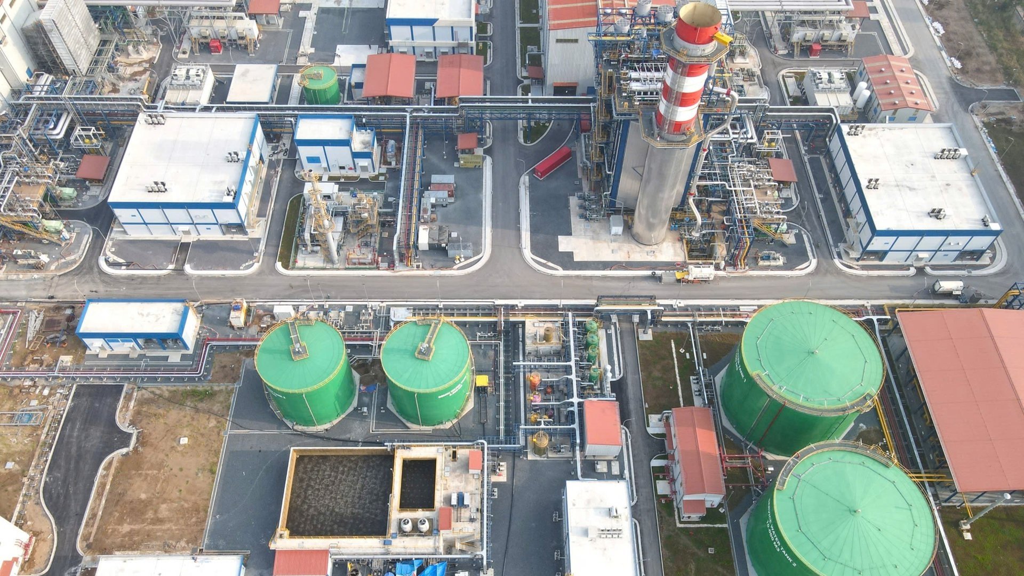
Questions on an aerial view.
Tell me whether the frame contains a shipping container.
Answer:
Yes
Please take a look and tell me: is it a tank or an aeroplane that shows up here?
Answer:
tank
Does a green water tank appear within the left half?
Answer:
Yes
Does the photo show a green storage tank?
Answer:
Yes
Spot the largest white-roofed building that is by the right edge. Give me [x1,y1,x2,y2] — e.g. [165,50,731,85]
[822,122,1004,267]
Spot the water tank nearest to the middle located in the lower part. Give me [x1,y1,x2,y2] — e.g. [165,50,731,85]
[382,313,475,427]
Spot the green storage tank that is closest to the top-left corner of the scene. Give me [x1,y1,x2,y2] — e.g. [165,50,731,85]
[295,60,346,110]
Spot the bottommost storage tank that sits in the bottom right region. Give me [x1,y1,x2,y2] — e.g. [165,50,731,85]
[740,438,941,576]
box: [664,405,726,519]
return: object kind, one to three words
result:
building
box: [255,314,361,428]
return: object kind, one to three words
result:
water tank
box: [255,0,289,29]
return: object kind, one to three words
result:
shed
